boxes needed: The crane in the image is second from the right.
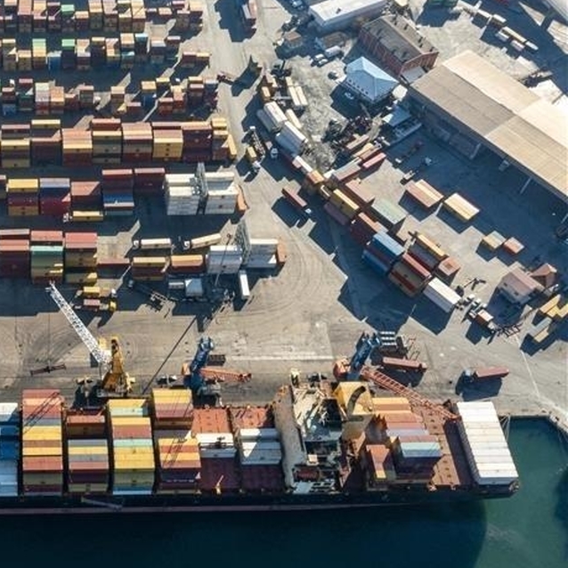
[180,335,257,417]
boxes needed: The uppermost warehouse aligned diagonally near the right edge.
[411,58,568,216]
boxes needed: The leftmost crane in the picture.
[44,279,137,410]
